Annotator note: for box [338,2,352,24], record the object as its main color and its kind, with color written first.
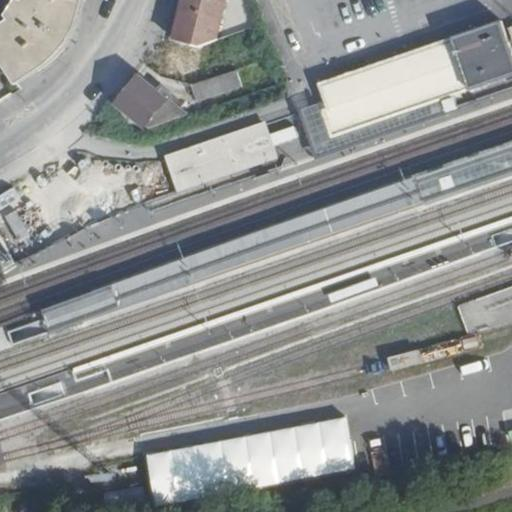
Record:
white car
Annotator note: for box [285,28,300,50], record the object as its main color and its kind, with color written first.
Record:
white car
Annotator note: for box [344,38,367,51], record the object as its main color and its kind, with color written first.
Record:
white vehicle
